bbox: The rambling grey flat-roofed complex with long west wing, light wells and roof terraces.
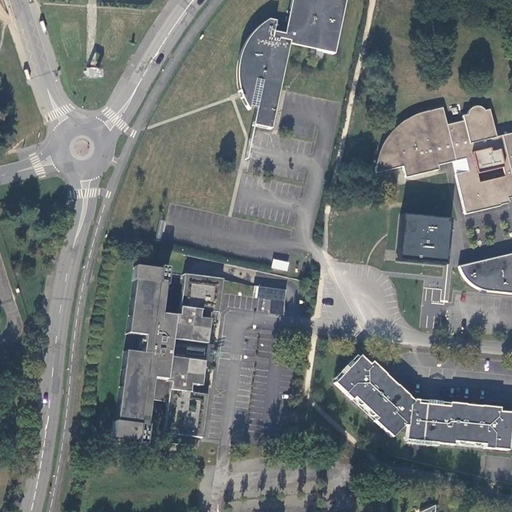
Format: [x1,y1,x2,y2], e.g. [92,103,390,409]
[114,264,224,442]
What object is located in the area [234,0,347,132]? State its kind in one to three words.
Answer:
building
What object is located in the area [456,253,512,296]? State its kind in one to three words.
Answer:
building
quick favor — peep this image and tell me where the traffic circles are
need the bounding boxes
[18,104,126,189]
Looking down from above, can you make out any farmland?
No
